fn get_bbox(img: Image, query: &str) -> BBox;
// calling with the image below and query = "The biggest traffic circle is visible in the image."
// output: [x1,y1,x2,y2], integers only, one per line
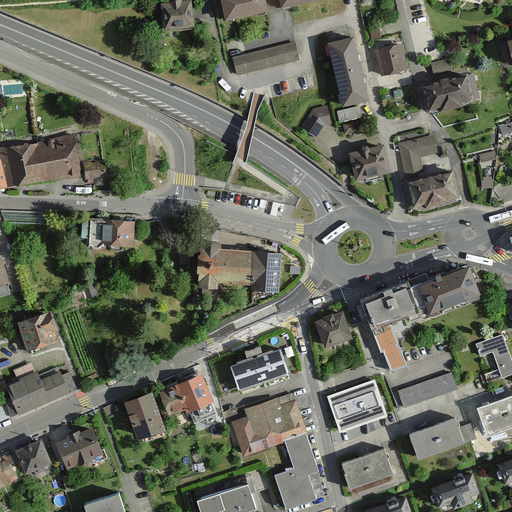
[338,230,372,264]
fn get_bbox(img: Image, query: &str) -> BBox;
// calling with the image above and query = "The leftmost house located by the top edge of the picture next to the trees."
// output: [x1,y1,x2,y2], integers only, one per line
[160,0,194,30]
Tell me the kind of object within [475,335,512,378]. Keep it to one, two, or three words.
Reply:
house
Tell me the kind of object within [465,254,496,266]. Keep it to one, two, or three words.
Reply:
vehicle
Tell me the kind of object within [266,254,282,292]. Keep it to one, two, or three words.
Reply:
solar panel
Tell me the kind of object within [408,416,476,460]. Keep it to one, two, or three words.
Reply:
building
